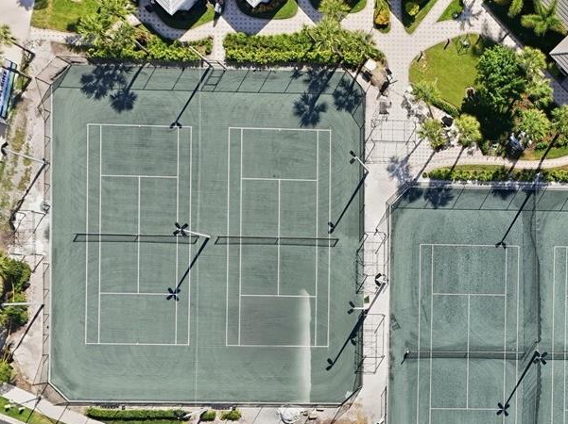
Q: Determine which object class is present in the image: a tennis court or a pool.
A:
tennis court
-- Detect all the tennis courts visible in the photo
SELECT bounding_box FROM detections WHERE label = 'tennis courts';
[534,190,568,424]
[197,66,364,403]
[387,189,534,424]
[49,64,198,402]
